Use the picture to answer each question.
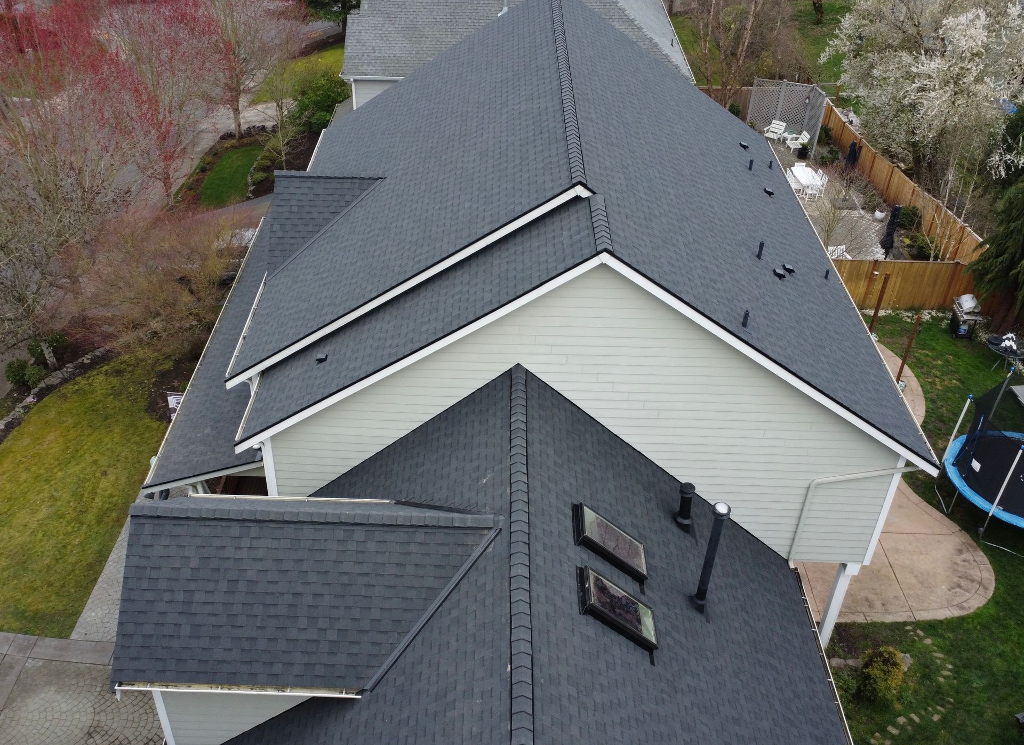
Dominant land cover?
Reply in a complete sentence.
The largest share of the image is taken up by buildings.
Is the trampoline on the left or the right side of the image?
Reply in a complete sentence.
The trampoline appears in the right half of the scene.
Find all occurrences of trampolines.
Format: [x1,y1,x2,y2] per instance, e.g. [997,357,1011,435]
[930,369,1024,541]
